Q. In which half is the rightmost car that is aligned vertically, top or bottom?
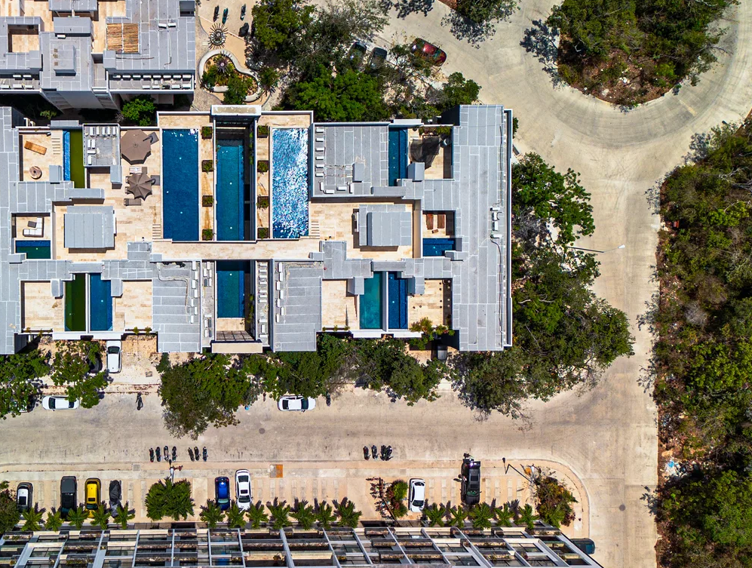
bottom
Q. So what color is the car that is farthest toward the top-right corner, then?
red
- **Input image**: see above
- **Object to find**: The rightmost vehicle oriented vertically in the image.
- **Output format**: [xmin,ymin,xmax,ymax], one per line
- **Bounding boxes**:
[462,461,484,507]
